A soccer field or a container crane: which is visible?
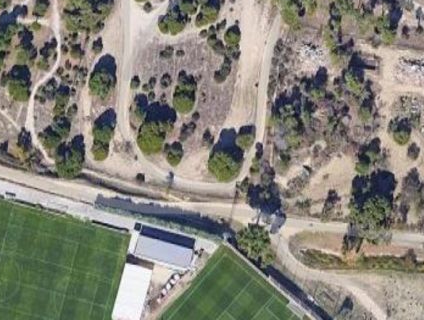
soccer field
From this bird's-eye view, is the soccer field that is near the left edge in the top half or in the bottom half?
bottom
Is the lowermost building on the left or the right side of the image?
left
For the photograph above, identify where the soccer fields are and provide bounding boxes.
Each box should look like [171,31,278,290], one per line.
[0,203,130,320]
[168,243,318,320]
